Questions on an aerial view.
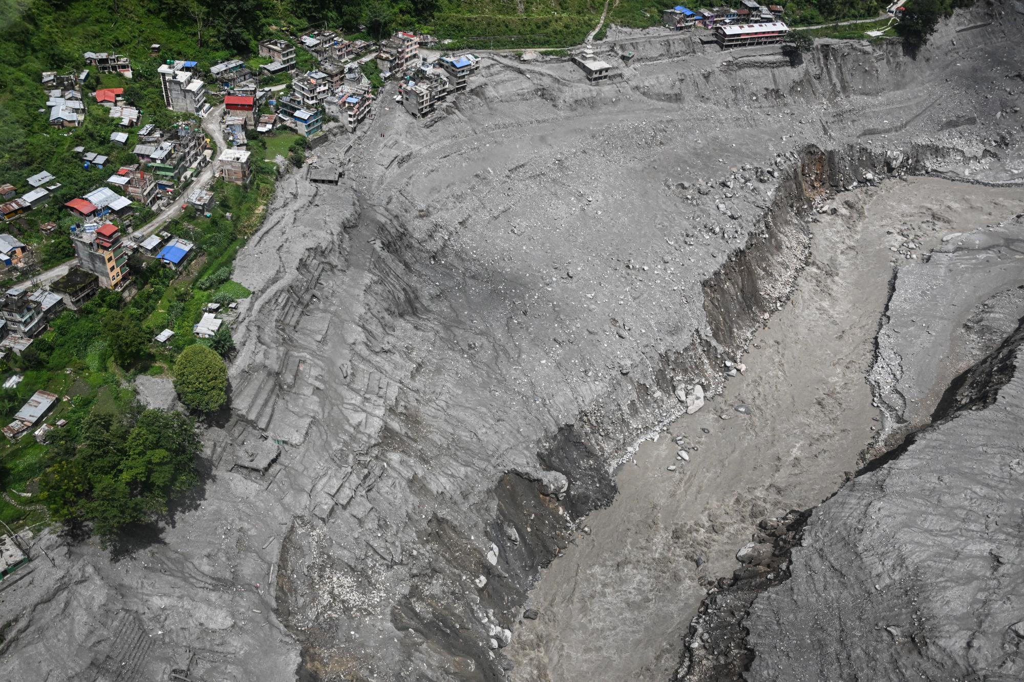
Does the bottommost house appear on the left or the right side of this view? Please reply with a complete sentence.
The bottommost house appears in the left half of the scene.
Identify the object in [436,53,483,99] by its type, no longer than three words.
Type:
house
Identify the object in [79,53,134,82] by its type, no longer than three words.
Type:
house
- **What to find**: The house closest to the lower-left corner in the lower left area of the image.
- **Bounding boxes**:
[0,540,29,591]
